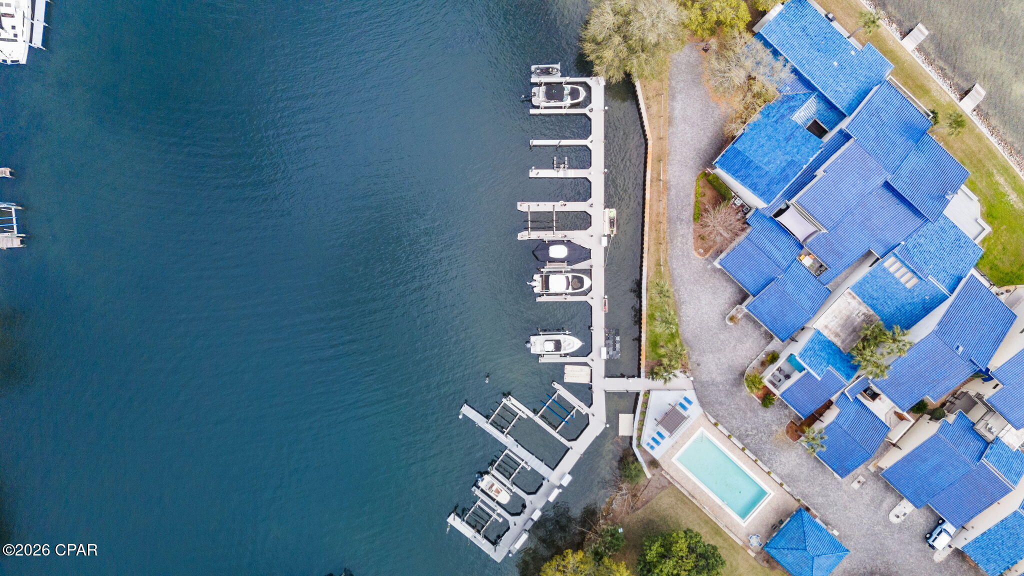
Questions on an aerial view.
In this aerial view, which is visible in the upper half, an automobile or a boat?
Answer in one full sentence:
It is a boat that can be seen in the upper half.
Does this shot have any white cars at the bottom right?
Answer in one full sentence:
Yes, you'll find a white car at the bottom right.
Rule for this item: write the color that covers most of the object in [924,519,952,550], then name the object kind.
white car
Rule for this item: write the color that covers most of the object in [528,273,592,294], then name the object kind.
white boat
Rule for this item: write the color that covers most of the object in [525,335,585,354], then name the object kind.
white boat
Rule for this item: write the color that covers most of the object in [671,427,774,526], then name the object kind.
white swimming pool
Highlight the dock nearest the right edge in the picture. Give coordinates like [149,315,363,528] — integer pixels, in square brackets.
[959,83,987,112]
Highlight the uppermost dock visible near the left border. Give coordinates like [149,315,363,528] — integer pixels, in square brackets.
[23,0,60,52]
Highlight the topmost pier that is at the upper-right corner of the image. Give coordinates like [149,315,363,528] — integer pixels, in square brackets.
[901,22,929,51]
